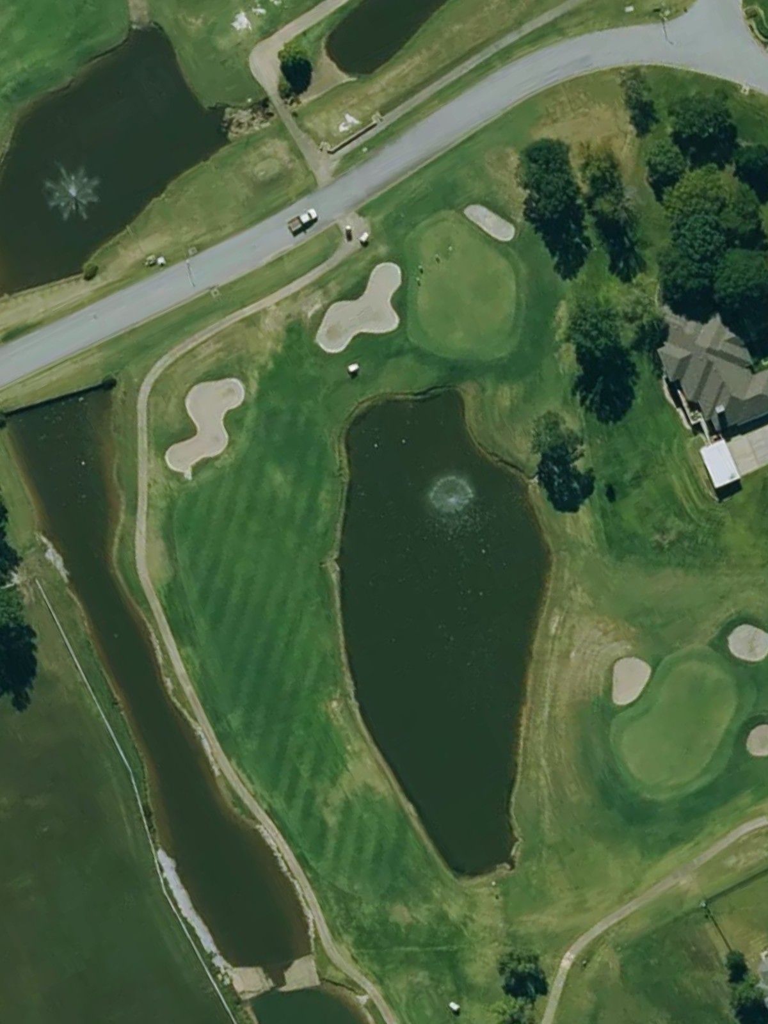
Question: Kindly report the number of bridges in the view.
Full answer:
There are no bridges in this view.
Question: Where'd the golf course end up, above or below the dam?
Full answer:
You can see the golf course above the dam in the frame.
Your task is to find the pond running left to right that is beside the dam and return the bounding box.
[243,983,367,1024]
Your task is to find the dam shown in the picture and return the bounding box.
[233,954,320,1000]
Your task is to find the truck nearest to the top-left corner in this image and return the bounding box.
[287,210,318,233]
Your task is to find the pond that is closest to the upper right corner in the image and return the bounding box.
[326,0,448,76]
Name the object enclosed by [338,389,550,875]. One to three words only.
pond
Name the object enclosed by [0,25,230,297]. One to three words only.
pond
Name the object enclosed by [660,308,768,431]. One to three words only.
house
